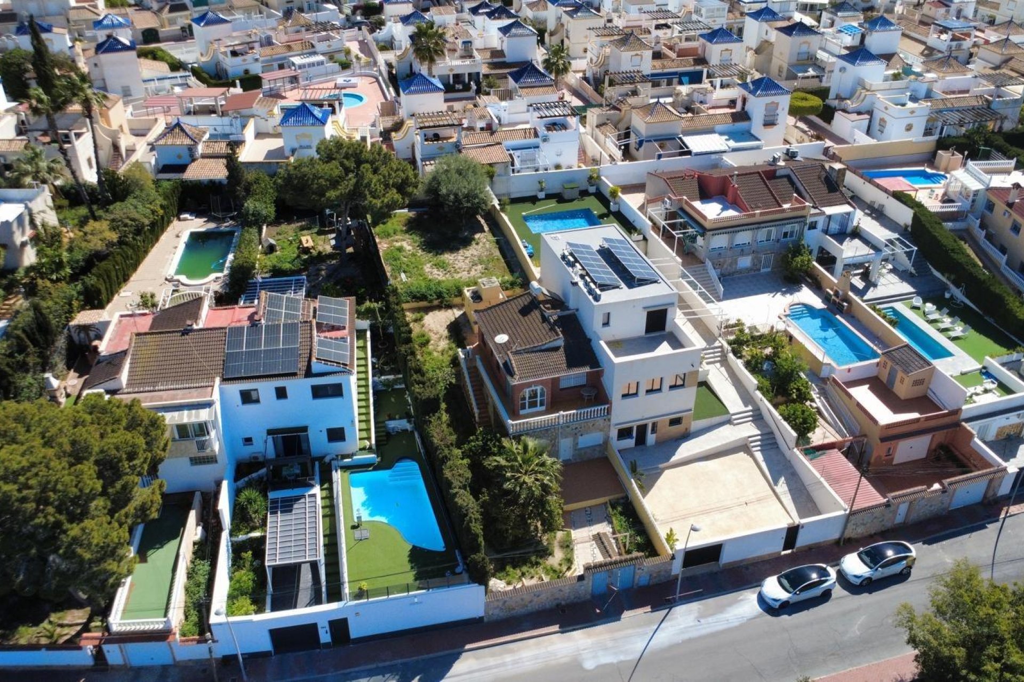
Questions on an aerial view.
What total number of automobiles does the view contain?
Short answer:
2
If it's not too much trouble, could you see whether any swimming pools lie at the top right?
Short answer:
Yes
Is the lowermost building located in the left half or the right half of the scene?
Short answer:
left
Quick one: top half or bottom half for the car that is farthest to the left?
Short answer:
bottom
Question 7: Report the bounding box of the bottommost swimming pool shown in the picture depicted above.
[349,459,446,553]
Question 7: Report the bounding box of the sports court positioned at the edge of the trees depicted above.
[121,492,192,620]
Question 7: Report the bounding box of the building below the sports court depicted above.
[64,615,217,665]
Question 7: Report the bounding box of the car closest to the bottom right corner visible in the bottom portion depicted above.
[839,538,920,585]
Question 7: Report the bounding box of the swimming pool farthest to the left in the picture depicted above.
[165,228,240,283]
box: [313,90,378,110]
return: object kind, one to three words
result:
swimming pool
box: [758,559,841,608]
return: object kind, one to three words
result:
car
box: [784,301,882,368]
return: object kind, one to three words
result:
swimming pool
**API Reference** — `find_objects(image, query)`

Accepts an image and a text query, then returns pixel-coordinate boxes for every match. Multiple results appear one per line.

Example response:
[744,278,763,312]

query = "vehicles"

[758,559,841,608]
[839,538,920,585]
